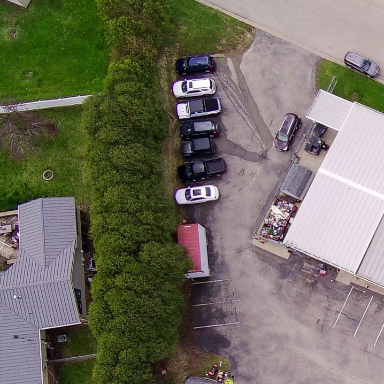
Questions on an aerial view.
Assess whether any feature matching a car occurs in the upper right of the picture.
Yes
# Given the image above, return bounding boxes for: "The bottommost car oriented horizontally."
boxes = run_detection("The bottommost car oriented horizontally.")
[175,186,220,204]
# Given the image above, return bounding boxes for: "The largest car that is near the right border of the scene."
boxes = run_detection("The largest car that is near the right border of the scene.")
[342,49,382,78]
